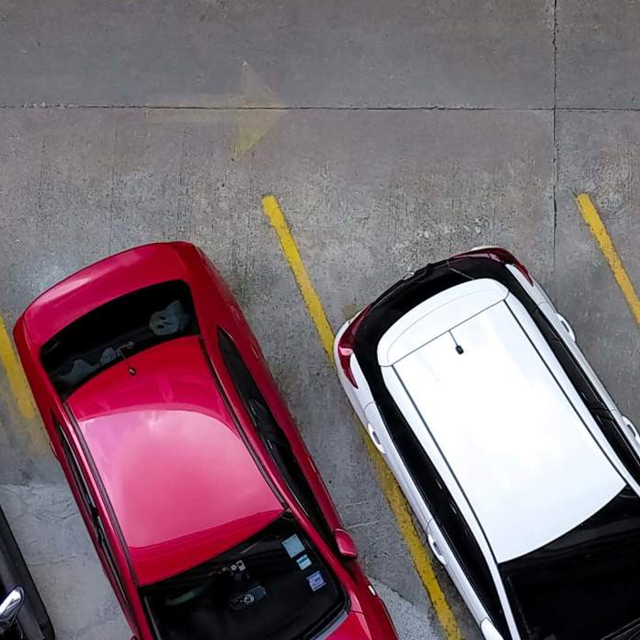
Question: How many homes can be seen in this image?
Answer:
zero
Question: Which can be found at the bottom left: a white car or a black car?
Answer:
black car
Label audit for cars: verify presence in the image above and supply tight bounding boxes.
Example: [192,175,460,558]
[338,246,640,640]
[13,240,406,640]
[0,502,62,640]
